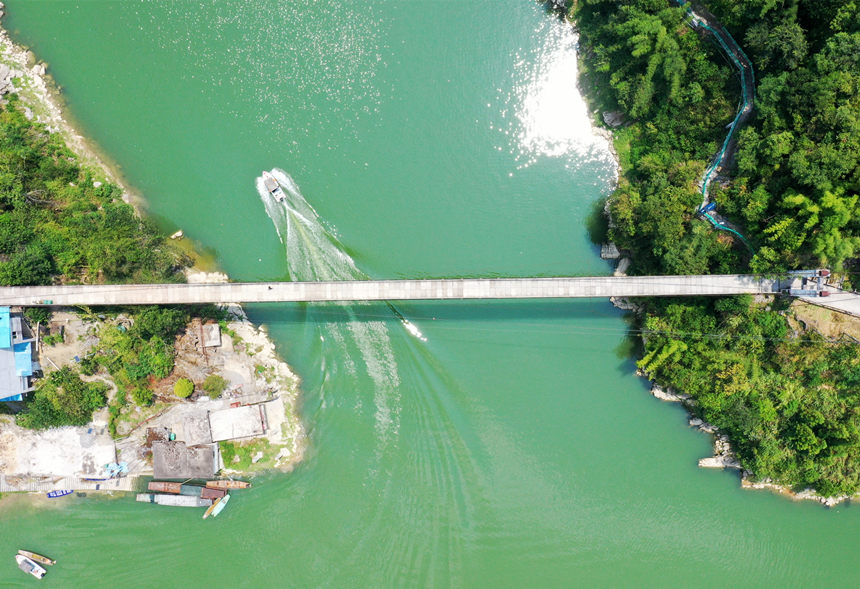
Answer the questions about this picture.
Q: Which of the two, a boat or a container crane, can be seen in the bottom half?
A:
boat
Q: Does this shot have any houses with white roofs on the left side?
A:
Yes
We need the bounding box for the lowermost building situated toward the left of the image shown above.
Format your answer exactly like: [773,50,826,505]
[151,440,219,479]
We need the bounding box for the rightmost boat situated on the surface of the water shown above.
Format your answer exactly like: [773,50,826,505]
[263,171,285,203]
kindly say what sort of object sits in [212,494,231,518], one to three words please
boat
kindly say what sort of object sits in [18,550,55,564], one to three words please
boat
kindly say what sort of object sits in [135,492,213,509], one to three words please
ship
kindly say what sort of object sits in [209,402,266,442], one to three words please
house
